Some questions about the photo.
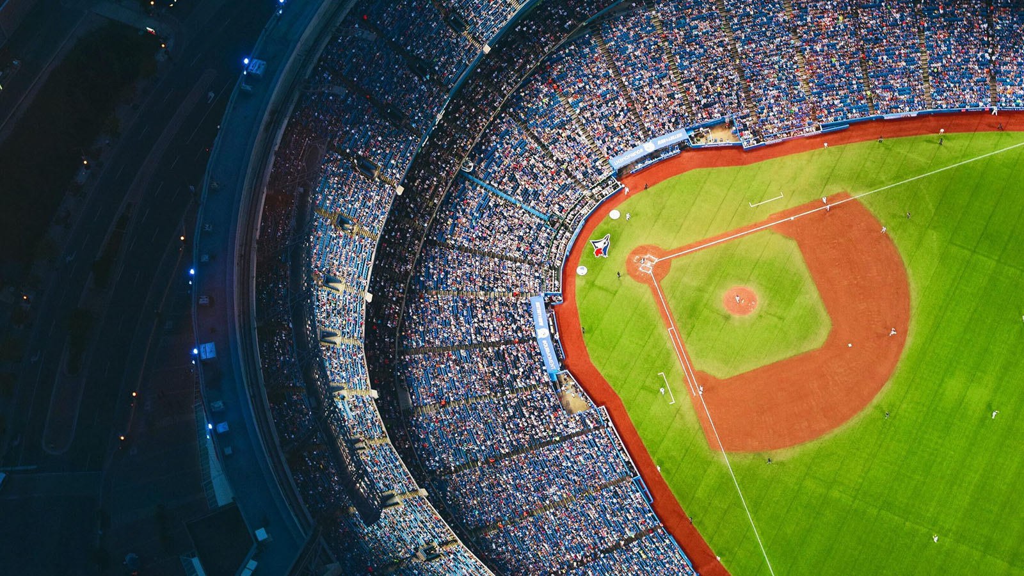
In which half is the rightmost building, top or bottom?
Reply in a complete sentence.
The rightmost building is in the bottom half of the image.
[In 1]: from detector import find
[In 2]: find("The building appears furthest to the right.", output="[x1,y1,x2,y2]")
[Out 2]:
[184,502,255,576]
